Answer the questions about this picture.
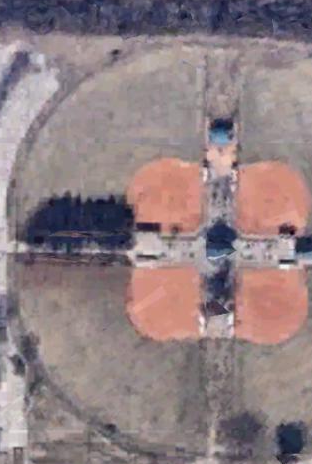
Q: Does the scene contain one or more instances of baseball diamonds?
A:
Yes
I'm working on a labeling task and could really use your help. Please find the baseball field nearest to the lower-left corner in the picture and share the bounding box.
[13,265,206,456]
